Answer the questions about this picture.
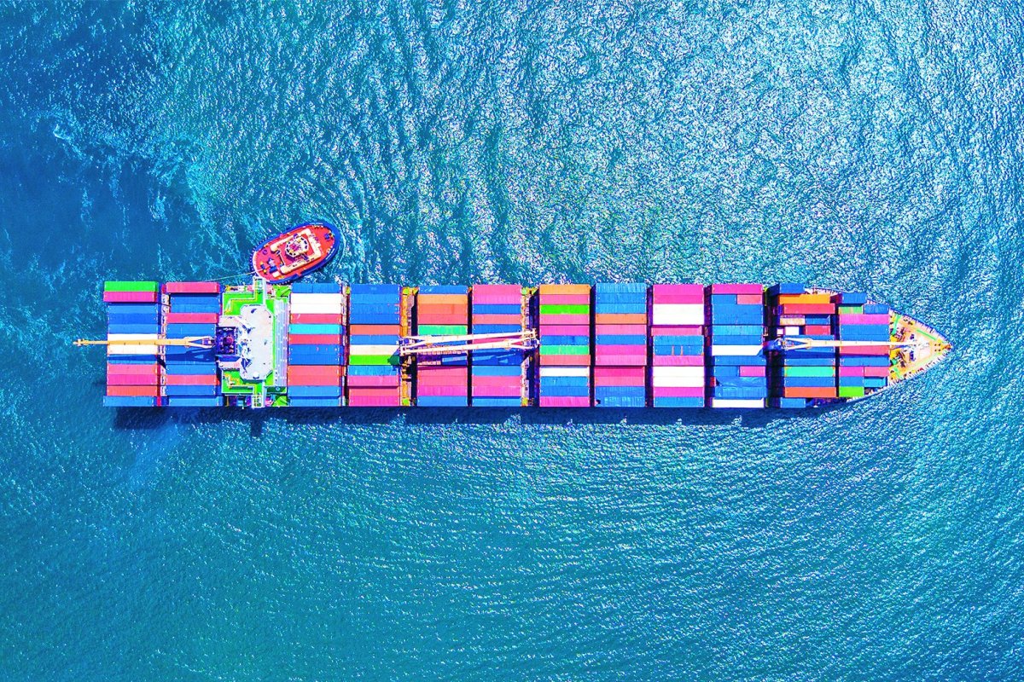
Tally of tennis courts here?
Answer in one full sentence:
I count no tennis courts.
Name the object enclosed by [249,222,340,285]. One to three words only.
boat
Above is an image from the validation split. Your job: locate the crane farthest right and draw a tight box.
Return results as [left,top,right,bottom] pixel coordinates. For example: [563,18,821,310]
[759,334,920,351]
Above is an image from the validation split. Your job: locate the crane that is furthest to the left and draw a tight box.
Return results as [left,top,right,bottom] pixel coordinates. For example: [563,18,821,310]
[72,333,218,349]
